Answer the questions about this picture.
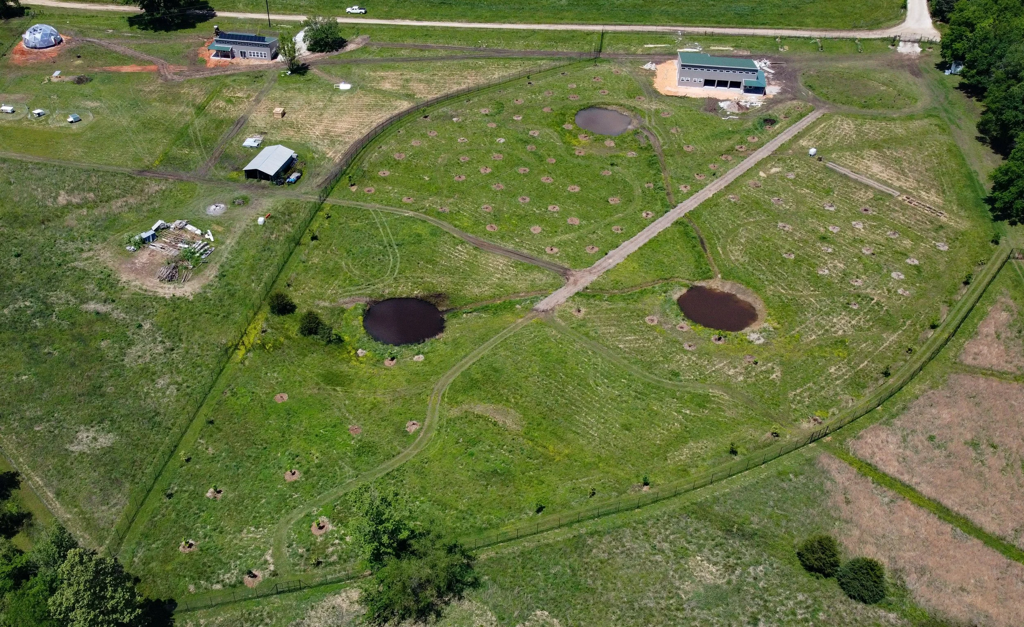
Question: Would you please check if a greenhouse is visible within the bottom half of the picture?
No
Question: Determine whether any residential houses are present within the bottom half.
No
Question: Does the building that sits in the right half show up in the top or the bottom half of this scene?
top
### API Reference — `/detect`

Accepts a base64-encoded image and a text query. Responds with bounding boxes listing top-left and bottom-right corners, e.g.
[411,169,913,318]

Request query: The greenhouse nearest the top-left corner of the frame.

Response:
[21,21,62,49]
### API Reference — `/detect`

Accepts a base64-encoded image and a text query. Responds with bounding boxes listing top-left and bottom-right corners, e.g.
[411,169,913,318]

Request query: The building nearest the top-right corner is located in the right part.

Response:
[677,52,769,95]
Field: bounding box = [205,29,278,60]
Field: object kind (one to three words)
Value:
house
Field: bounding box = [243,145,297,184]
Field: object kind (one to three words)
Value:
barn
